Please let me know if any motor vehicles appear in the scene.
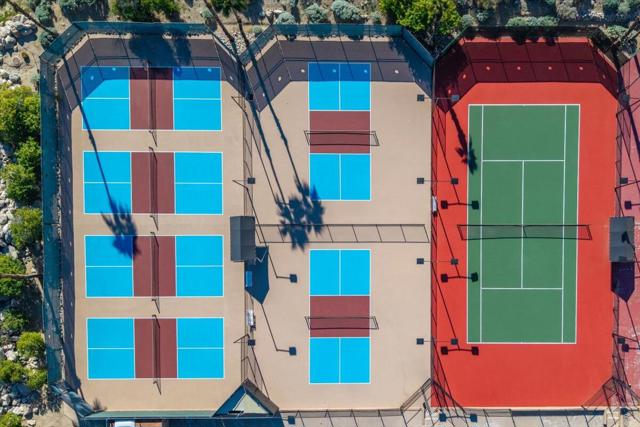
No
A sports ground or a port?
sports ground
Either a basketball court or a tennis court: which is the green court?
tennis court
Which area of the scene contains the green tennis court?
right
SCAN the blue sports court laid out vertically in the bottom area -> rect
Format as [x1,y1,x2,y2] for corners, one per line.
[309,249,371,384]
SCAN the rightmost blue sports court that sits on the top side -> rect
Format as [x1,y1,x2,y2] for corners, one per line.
[308,63,371,201]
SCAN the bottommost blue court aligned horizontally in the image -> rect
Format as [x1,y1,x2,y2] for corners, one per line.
[87,318,224,379]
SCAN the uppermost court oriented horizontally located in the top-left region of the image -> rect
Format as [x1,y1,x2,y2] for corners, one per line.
[82,66,221,130]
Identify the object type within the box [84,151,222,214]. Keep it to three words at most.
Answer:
sports court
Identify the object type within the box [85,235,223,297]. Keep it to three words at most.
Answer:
sports court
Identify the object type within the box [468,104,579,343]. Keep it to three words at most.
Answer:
tennis court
